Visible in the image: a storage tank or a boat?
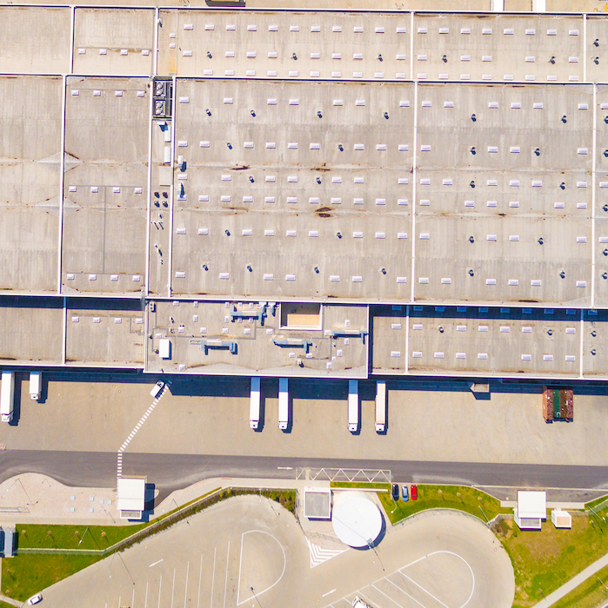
storage tank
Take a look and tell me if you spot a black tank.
No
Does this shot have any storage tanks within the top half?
No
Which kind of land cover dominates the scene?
buildings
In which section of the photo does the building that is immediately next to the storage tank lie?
bottom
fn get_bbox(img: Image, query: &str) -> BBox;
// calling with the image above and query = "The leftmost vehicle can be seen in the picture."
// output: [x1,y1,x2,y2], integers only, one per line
[1,372,15,423]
